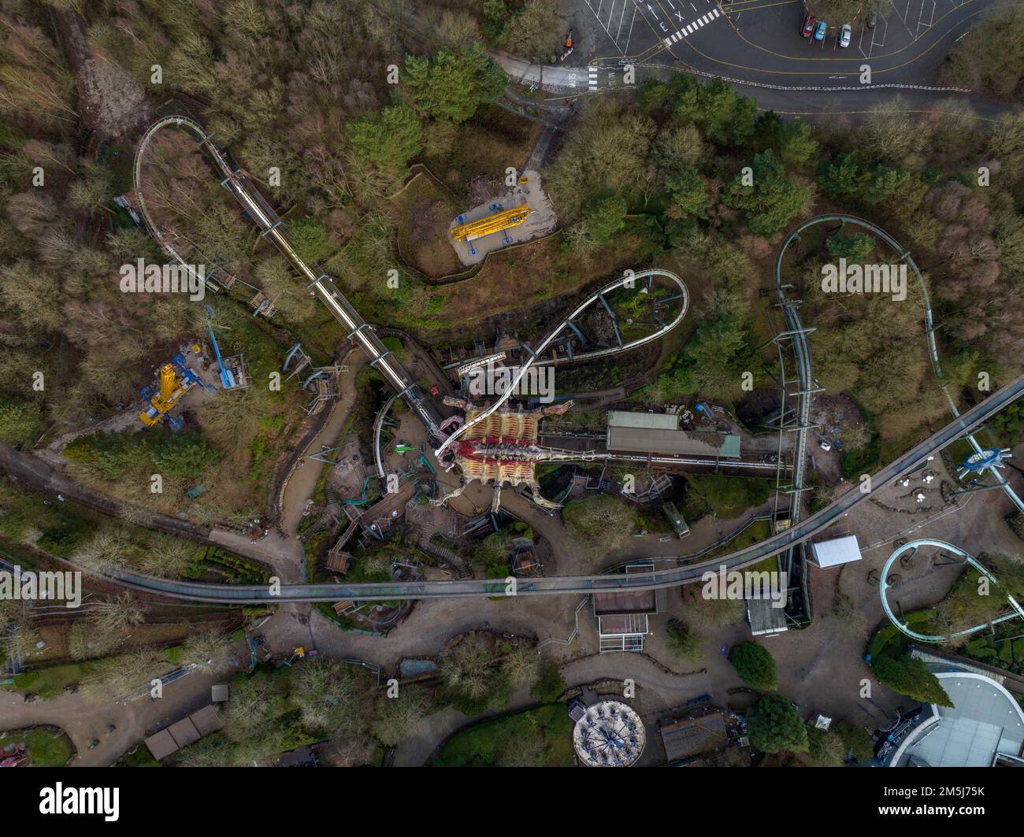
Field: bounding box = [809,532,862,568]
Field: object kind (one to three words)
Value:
tent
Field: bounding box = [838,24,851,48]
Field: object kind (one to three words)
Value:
vehicle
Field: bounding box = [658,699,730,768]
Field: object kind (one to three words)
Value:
building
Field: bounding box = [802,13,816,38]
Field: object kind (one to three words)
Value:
car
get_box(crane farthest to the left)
[136,354,212,428]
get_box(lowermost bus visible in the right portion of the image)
[662,501,692,540]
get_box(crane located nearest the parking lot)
[451,202,531,257]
